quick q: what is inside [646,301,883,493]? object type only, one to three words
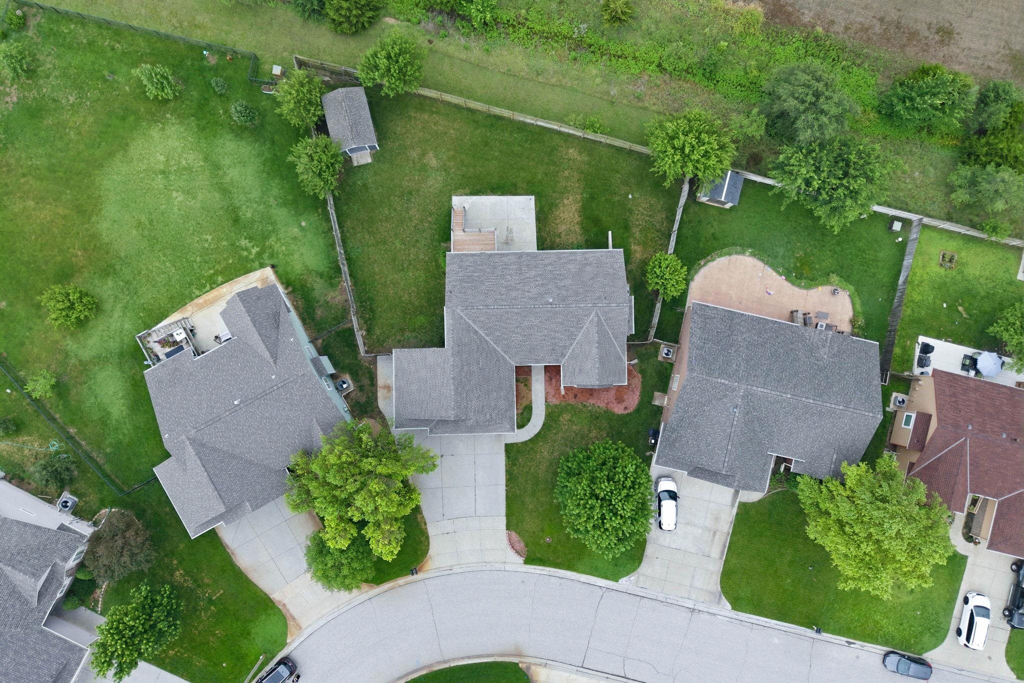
house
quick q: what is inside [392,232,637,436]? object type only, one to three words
house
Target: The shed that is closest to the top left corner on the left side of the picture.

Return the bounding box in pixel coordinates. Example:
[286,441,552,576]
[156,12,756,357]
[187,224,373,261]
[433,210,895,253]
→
[323,87,380,166]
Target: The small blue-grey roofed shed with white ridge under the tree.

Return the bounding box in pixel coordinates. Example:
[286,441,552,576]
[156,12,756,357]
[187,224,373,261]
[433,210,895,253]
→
[695,171,743,209]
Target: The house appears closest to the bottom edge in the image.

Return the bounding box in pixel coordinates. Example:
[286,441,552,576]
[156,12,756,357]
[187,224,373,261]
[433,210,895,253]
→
[0,472,108,683]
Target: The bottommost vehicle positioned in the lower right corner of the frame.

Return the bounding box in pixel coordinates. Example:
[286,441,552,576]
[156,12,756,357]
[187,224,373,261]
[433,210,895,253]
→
[879,646,935,681]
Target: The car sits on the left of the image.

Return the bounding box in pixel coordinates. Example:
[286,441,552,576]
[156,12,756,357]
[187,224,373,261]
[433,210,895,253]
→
[251,648,299,683]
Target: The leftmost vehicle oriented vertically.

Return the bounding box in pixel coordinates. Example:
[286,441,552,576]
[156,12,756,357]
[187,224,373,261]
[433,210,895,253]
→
[654,475,681,531]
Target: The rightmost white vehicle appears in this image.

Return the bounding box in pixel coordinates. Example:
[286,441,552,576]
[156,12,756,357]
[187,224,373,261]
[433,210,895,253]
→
[954,594,990,648]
